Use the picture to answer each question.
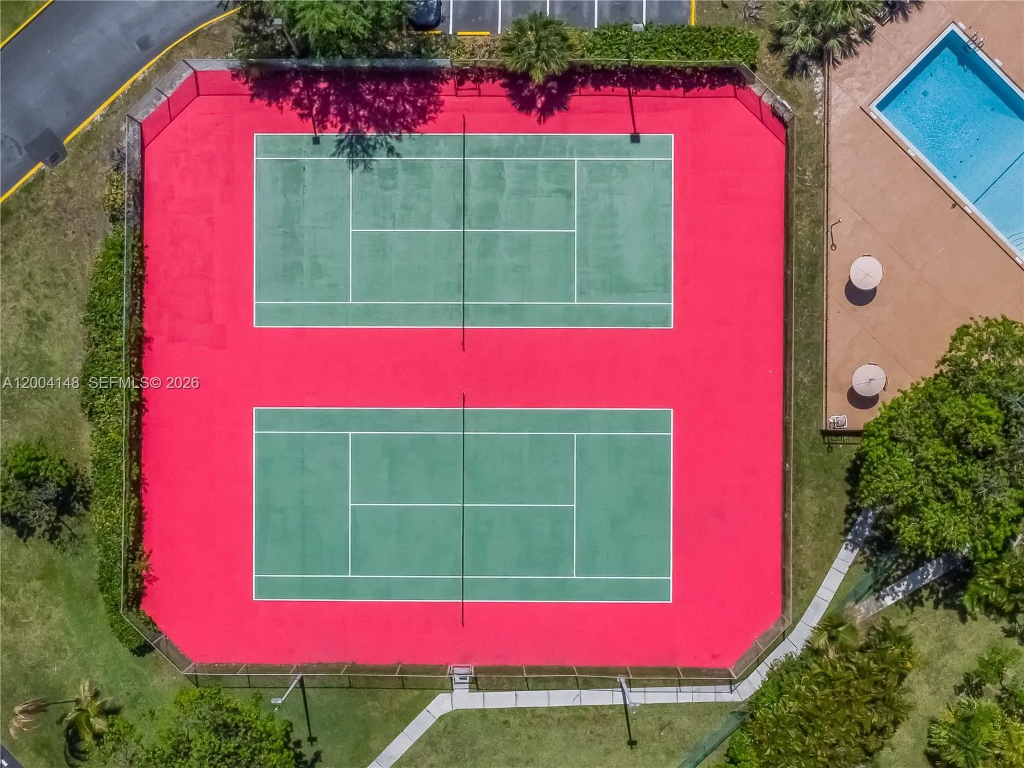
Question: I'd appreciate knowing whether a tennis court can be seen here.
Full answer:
Yes, there is a tennis court in the image.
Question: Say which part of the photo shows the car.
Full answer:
The car appears toward the top of the photo.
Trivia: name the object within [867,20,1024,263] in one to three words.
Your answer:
swimming pool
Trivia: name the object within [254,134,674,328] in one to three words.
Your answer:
tennis court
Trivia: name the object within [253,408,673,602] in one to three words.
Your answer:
tennis court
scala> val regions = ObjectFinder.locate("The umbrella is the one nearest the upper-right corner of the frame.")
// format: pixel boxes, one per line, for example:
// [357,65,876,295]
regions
[848,257,882,291]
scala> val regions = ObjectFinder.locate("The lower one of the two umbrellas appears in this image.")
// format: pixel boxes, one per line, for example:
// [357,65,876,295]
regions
[851,364,885,397]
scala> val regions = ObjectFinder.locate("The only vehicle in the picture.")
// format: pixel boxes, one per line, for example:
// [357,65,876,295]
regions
[408,0,444,30]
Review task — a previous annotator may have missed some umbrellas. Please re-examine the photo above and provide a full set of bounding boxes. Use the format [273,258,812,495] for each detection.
[851,364,885,397]
[848,257,882,291]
